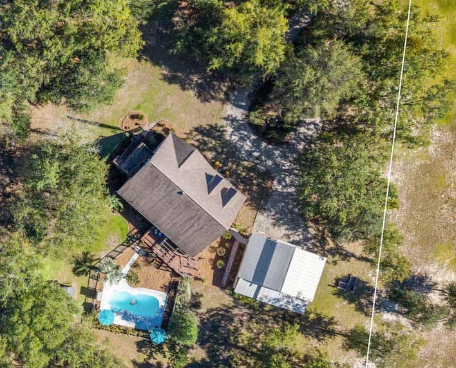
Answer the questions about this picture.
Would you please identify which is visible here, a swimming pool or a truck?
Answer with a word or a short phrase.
swimming pool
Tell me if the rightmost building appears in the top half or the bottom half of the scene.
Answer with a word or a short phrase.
bottom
